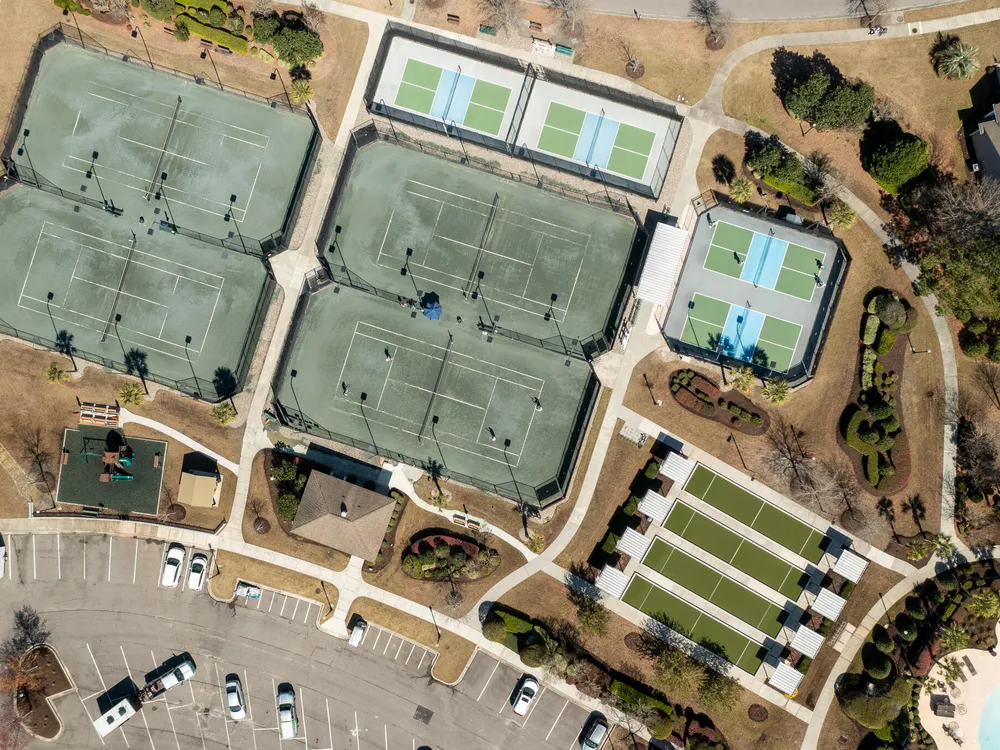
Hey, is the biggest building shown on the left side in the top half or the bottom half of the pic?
bottom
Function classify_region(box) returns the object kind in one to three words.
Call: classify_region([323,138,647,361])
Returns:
tennis court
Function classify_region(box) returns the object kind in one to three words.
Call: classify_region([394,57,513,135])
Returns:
sports court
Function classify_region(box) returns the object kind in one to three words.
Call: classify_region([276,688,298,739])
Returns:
truck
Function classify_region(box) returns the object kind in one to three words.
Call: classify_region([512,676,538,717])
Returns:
car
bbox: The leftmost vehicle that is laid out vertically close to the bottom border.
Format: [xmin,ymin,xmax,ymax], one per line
[226,678,247,718]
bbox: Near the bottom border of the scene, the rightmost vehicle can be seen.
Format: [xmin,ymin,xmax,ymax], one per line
[580,717,609,750]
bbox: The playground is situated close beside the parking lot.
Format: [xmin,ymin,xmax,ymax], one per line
[56,425,168,516]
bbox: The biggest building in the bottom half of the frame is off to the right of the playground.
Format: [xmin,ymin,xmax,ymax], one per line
[290,470,397,561]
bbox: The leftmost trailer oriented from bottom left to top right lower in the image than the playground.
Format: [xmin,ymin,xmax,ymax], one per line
[92,692,147,737]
